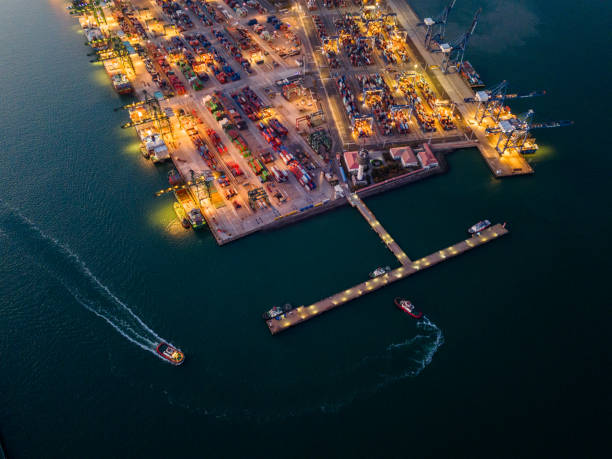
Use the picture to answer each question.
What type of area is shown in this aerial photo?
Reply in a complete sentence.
The area seen from above is a port.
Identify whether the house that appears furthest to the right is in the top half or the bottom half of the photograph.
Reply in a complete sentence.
The house that appears furthest to the right sits in the top half of the picture.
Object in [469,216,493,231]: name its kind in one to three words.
ship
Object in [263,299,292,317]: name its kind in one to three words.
boat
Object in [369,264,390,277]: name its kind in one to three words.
boat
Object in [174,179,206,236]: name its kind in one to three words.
ship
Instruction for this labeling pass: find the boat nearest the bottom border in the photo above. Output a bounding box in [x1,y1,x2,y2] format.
[153,339,184,363]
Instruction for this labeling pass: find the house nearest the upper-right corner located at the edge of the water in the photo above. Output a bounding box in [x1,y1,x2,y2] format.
[418,143,440,170]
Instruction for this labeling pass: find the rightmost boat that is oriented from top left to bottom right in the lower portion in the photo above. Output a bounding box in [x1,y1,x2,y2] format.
[396,295,425,320]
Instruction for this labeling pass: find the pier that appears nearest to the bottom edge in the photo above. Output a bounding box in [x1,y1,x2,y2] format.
[266,197,508,335]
